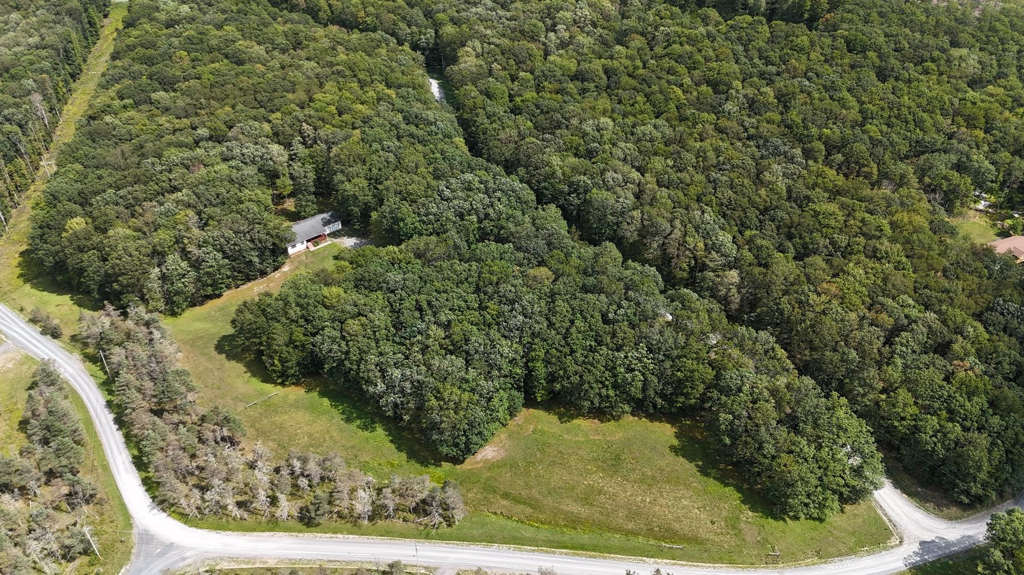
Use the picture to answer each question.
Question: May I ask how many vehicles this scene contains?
0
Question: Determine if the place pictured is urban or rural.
rural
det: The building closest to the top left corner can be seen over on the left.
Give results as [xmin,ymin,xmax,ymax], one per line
[283,212,343,256]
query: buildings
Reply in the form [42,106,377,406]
[978,233,1024,266]
[283,212,343,256]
